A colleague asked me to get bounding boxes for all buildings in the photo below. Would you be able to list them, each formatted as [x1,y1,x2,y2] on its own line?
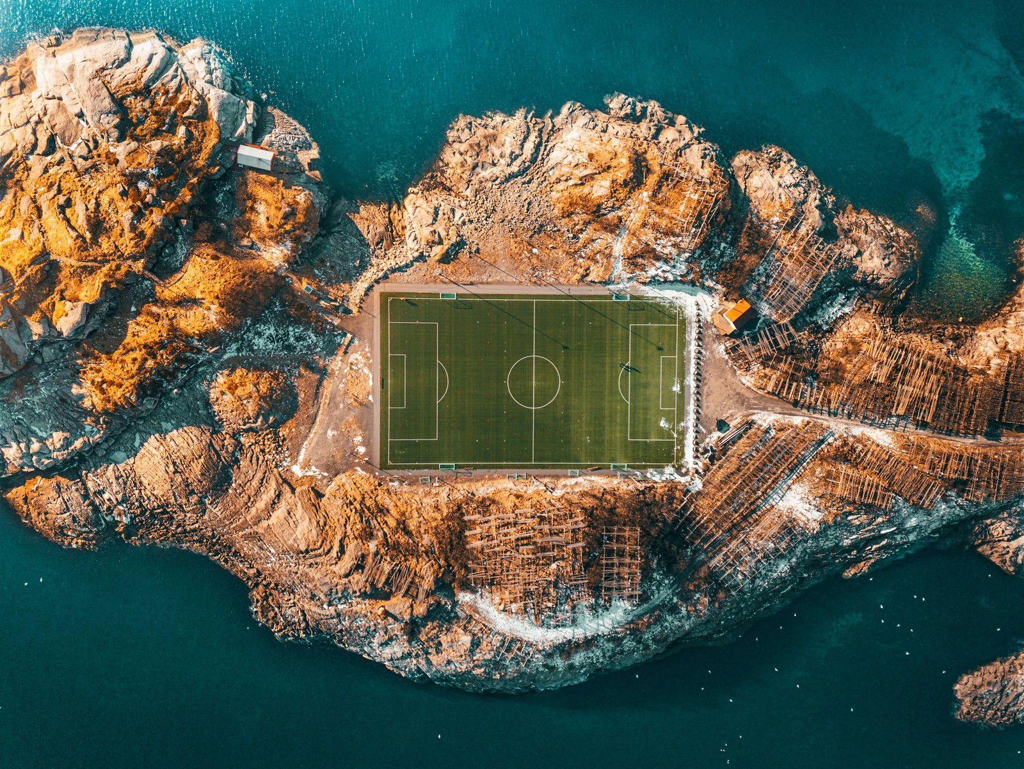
[710,297,754,337]
[236,141,277,173]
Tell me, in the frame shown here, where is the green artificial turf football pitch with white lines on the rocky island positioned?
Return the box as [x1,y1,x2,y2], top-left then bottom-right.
[380,292,685,470]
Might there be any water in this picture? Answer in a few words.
Yes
